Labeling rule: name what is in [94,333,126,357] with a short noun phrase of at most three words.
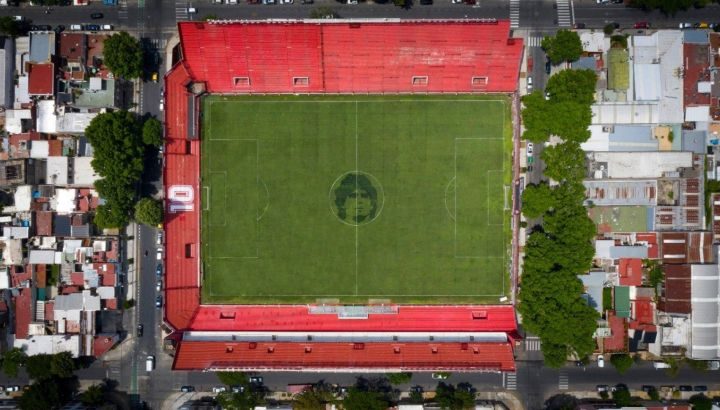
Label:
house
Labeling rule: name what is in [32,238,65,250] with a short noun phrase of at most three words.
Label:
house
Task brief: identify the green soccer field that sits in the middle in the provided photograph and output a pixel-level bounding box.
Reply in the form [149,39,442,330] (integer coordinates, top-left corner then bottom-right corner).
[198,92,513,305]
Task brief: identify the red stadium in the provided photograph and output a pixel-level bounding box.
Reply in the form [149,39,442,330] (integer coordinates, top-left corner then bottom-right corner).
[163,17,525,371]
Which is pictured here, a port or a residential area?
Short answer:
residential area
